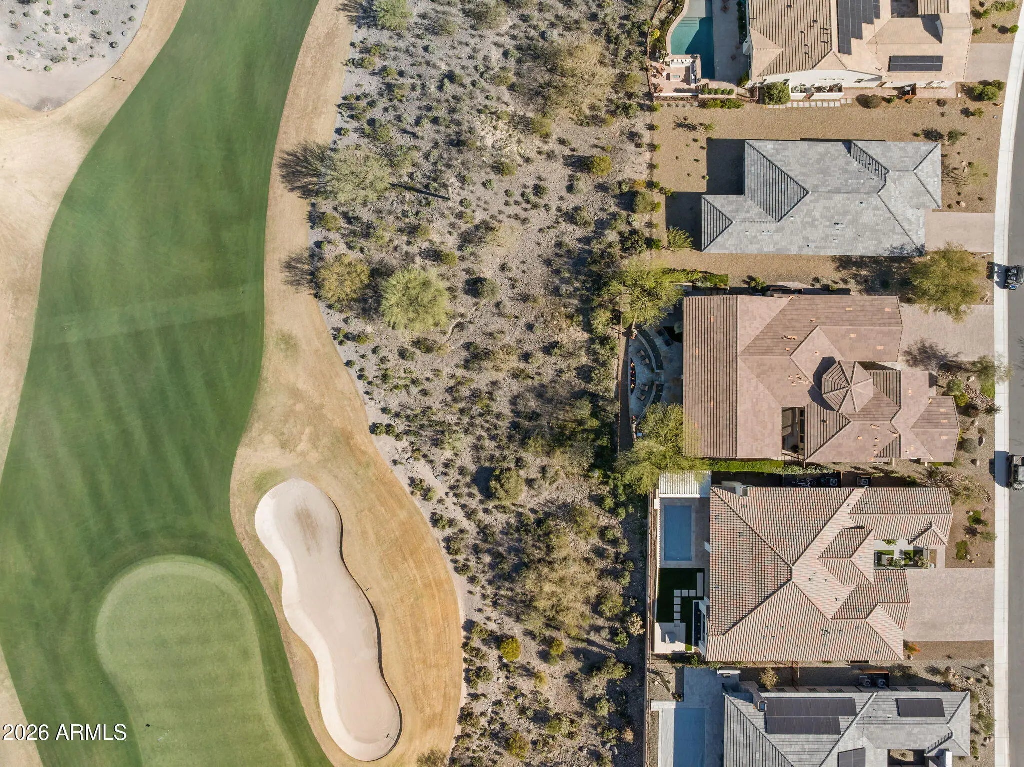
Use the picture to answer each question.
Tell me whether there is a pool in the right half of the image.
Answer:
Yes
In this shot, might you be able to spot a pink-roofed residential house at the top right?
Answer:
No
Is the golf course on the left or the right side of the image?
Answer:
left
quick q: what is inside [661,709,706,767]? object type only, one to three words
swimming pool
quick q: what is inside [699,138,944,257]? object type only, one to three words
house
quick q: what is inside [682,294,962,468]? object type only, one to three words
house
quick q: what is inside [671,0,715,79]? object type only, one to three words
swimming pool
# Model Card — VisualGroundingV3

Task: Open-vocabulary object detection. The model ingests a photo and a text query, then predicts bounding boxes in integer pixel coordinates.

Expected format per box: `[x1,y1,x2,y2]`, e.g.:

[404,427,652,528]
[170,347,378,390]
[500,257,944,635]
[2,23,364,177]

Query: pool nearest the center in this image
[665,506,692,561]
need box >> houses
[724,679,971,767]
[741,0,979,90]
[682,294,962,468]
[699,138,944,257]
[703,479,955,662]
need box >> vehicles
[1006,266,1024,292]
[1009,456,1024,493]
